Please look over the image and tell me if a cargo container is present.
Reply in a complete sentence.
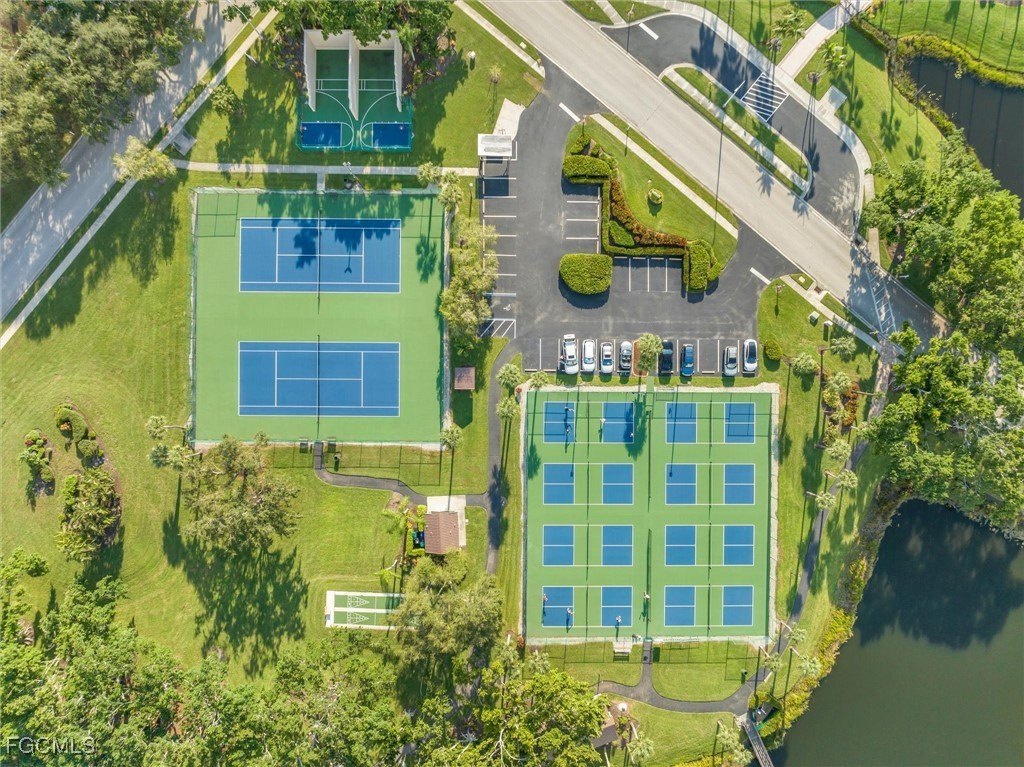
No, I find no cargo container anywhere in the image.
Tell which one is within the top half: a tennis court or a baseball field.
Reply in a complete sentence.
Looking within the top half, you will find a tennis court.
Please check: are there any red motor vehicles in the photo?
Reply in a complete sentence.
No, there is no red motor vehicle in the image.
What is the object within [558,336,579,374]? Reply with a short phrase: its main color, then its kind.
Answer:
white car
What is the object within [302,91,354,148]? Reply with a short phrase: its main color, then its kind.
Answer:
blue basketball court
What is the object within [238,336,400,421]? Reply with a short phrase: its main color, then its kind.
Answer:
blue tennis court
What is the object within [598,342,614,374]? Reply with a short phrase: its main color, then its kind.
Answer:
white car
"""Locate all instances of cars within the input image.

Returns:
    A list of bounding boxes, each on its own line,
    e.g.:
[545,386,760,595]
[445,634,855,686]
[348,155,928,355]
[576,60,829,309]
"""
[580,340,596,373]
[558,336,579,374]
[741,339,758,371]
[680,344,696,377]
[619,341,634,370]
[722,346,739,377]
[598,342,614,374]
[659,340,676,373]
